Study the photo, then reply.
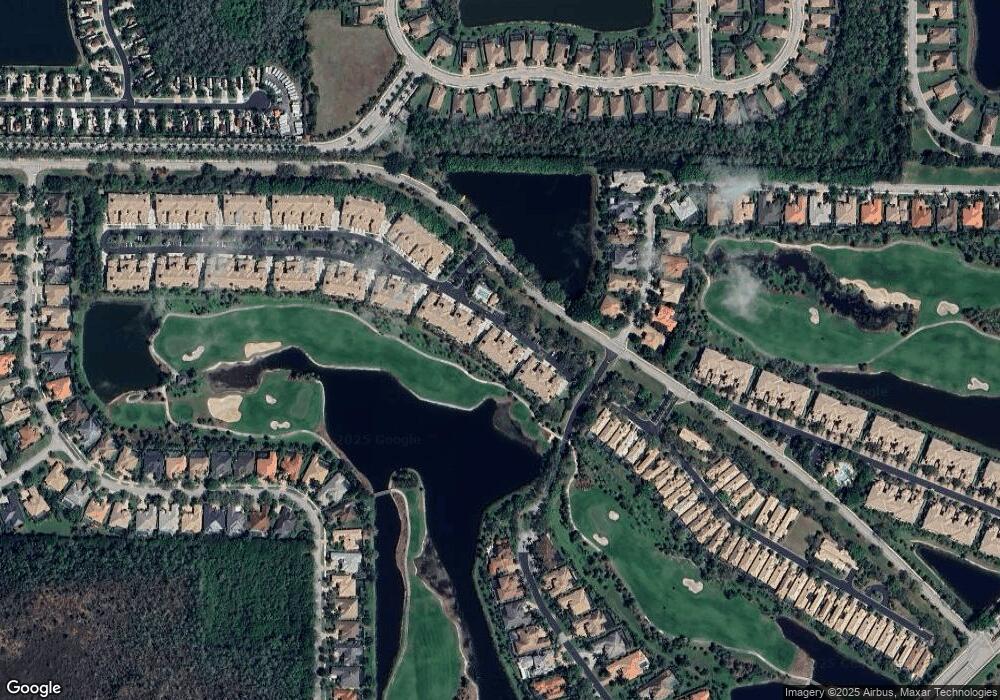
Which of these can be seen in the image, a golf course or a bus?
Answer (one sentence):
The image shows a golf course.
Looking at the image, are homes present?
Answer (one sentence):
Yes, the image includes a home.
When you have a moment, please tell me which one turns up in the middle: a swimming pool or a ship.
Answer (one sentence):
The feature located in the middle is a swimming pool.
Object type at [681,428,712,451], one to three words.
building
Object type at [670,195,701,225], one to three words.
house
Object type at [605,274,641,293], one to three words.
house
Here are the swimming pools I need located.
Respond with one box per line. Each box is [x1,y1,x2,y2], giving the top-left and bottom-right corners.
[831,462,854,484]
[473,285,493,306]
